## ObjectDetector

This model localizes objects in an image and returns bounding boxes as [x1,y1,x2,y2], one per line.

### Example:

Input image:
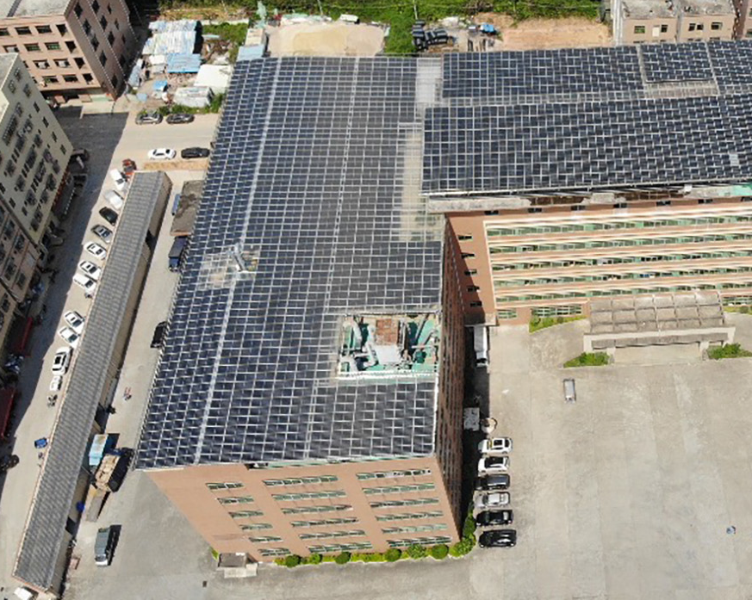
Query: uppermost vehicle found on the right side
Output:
[473,326,488,365]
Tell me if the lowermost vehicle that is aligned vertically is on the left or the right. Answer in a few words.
left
